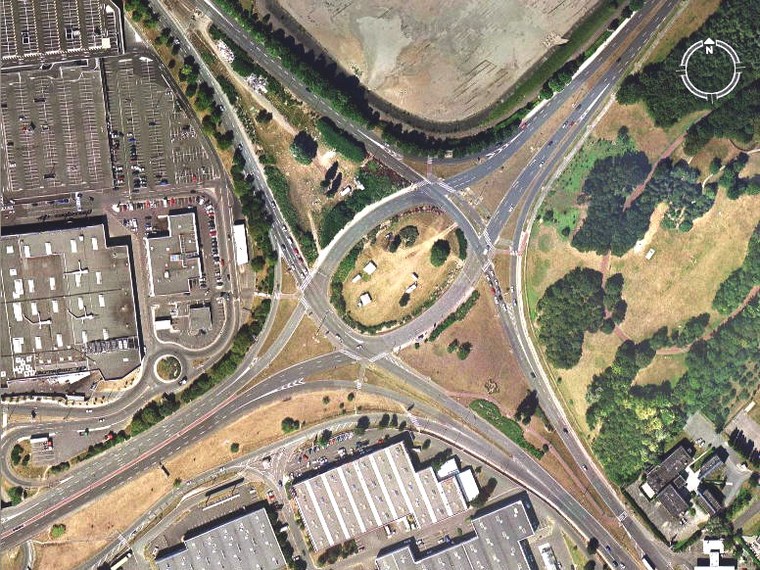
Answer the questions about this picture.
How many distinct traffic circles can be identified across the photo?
2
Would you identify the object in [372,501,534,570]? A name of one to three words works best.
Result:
building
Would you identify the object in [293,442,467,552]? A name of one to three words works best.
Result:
building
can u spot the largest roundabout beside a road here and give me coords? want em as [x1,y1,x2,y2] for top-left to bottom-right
[304,181,489,361]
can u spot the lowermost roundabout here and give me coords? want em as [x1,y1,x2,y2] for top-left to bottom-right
[143,344,192,393]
